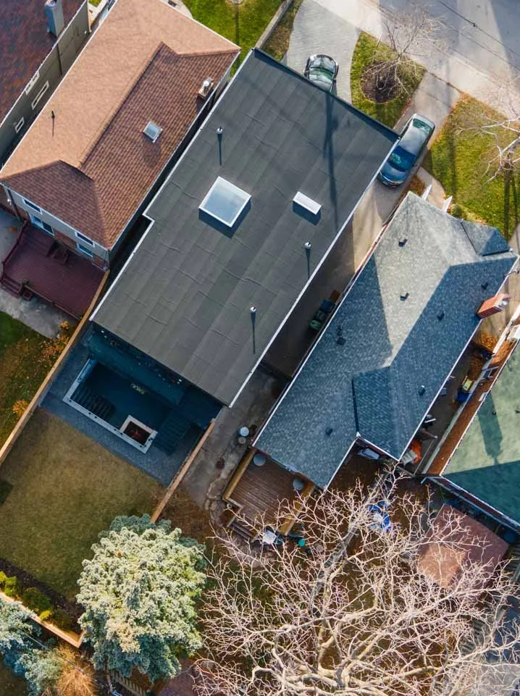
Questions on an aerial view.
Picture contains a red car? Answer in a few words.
No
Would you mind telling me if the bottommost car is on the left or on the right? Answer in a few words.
right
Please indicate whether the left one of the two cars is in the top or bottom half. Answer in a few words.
top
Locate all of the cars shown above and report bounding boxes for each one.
[374,110,440,194]
[304,50,343,98]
